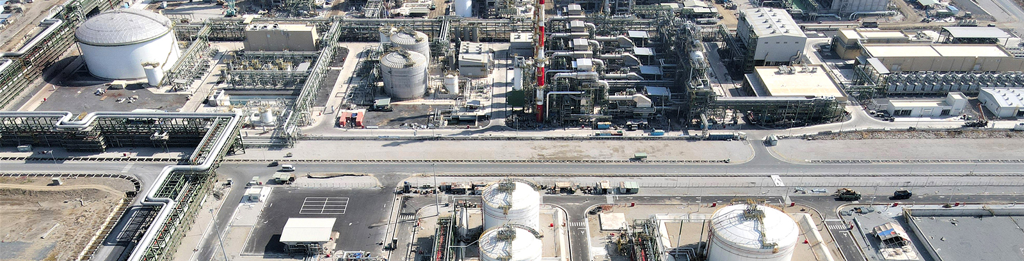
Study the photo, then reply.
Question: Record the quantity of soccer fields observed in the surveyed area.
none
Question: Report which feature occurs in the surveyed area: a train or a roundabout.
train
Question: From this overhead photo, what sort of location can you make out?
industrial area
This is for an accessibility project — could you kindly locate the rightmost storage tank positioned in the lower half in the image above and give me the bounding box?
[701,195,799,261]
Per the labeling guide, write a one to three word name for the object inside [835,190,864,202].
vehicle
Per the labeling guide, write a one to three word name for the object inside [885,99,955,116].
building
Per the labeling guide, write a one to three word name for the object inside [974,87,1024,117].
building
